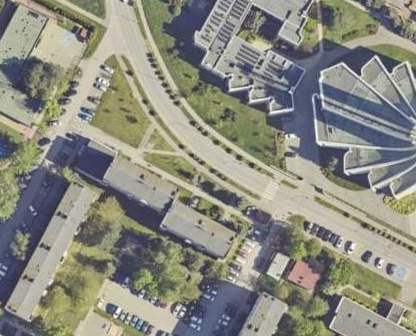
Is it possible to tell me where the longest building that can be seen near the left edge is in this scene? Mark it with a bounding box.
[5,181,99,325]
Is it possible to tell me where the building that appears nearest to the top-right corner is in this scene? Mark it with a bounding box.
[312,56,416,205]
